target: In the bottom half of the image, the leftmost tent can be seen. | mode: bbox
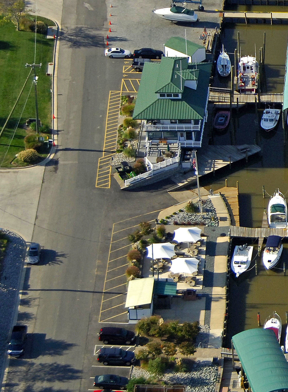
[143,243,178,262]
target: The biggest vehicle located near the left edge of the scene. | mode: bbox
[8,327,28,356]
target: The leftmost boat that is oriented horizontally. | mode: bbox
[150,5,200,24]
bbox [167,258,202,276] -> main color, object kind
white tent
